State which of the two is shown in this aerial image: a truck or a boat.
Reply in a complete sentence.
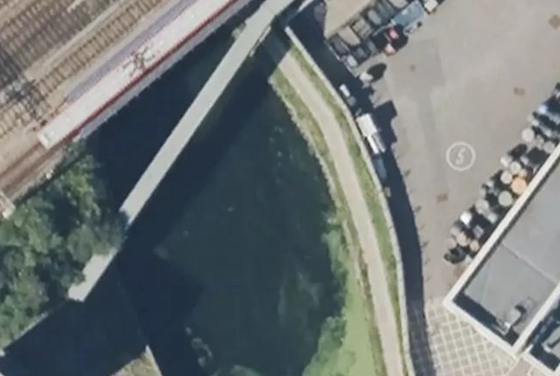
This aerial view contains a truck.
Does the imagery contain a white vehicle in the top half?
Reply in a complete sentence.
Yes, a white vehicle is visible in the top half.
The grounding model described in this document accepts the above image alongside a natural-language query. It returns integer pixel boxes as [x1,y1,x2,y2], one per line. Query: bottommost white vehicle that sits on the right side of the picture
[353,100,387,157]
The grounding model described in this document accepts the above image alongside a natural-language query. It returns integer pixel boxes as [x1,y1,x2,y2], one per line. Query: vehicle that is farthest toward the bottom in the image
[368,146,393,184]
